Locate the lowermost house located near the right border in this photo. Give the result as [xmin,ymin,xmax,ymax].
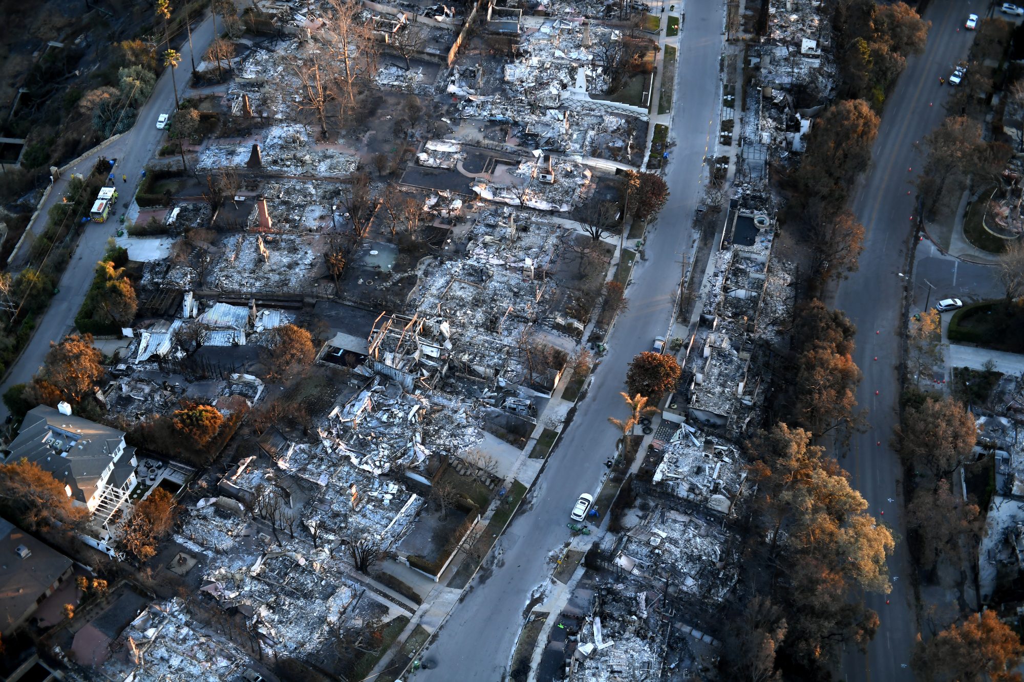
[974,504,1024,591]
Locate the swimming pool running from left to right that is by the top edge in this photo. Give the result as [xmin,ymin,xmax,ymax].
[486,19,522,32]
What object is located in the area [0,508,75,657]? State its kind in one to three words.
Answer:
house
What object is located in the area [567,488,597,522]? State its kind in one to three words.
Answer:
car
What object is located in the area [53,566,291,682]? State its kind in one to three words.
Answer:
house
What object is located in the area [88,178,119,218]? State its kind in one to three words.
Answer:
truck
